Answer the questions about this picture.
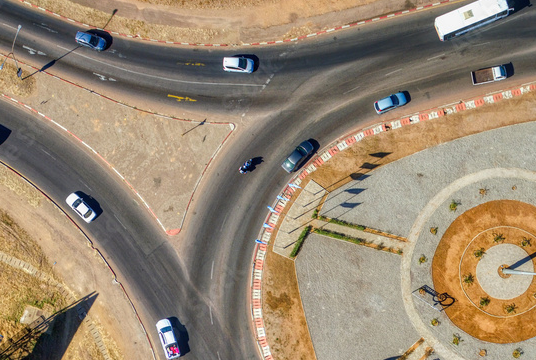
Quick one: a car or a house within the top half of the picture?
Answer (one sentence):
There is a car within the top half of the picture.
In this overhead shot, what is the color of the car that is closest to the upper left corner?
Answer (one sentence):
From above, the car that is closest to the upper left corner appears blue.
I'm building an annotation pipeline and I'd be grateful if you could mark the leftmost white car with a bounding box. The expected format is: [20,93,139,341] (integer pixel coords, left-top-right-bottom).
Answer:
[62,189,99,225]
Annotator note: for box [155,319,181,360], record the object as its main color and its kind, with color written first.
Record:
white truck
